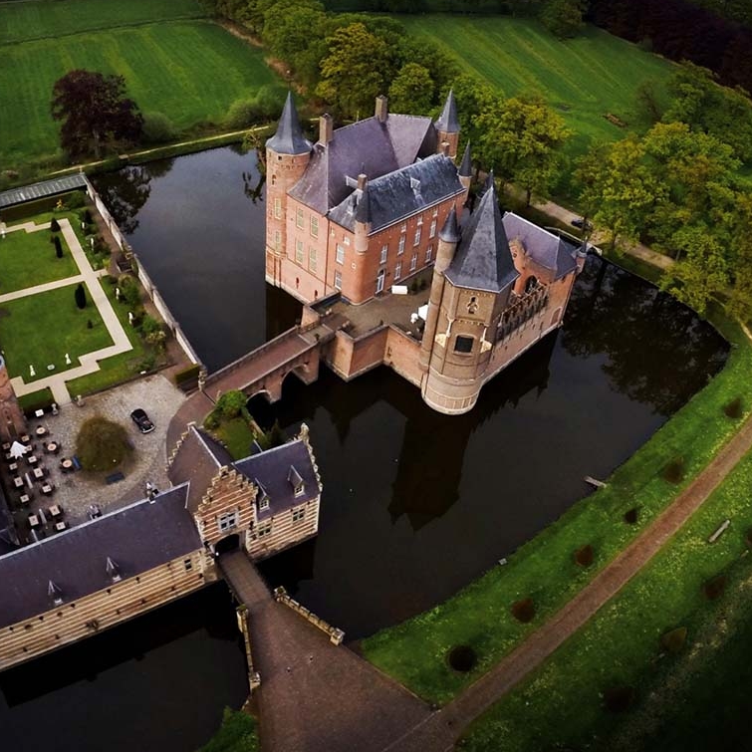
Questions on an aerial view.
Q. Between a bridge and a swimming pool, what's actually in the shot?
bridge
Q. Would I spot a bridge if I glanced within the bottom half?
Yes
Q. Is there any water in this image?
Yes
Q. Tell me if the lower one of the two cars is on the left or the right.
left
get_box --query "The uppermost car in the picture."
[569,218,593,231]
